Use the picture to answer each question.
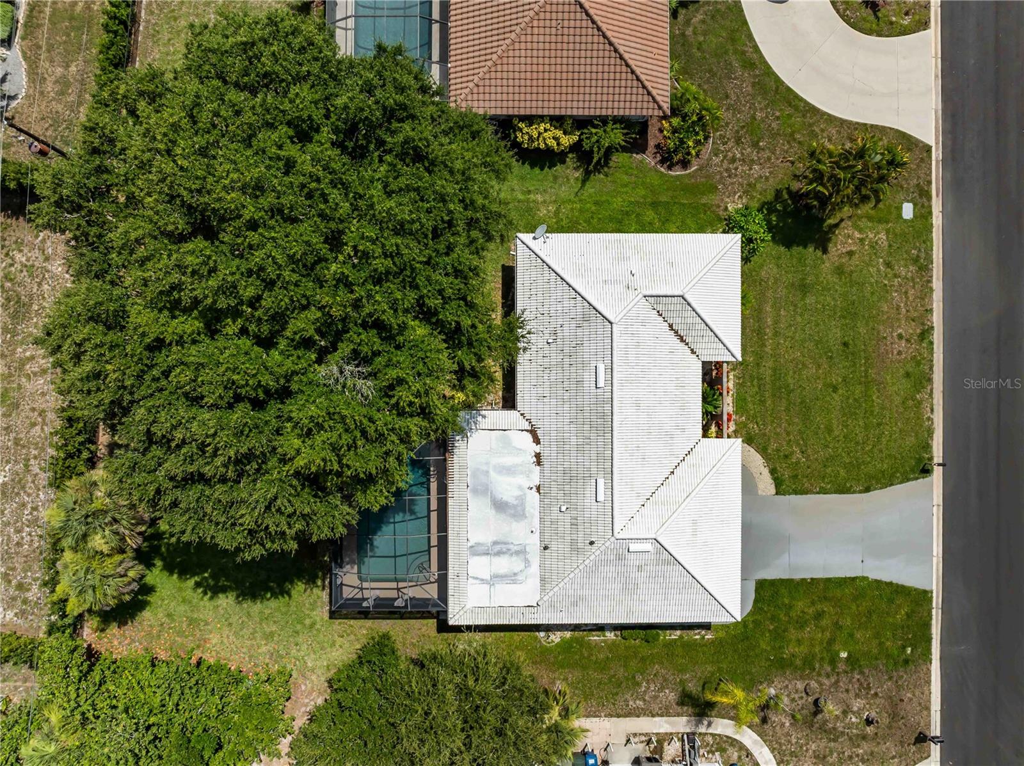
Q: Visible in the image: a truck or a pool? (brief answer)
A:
pool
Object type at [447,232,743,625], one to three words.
house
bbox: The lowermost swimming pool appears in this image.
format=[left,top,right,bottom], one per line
[354,420,434,586]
